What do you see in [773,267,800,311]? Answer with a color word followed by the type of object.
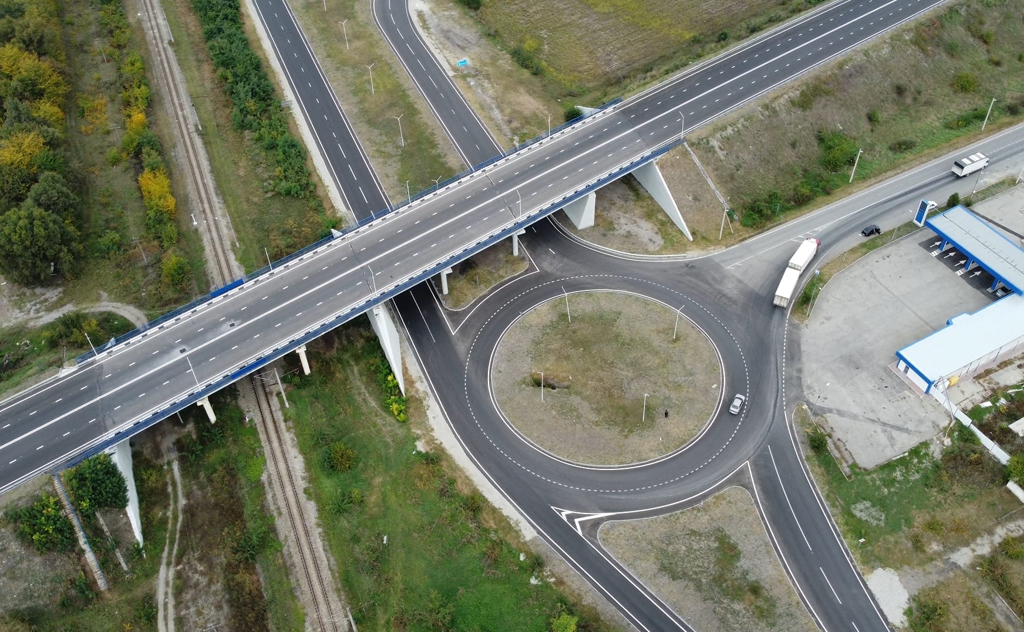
white trailer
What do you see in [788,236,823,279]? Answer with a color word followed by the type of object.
white truck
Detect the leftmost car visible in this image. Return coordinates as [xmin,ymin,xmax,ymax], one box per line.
[727,392,747,418]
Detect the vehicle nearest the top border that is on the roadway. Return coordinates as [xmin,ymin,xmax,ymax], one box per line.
[954,153,986,175]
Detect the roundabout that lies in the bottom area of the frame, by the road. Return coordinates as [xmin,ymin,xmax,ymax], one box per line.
[432,249,806,545]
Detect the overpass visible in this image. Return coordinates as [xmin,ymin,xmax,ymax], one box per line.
[75,94,696,567]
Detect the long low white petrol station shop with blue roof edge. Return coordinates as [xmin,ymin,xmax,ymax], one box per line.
[893,292,1024,394]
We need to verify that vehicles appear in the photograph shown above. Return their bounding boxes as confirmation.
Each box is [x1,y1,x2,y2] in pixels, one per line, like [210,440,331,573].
[788,236,823,279]
[727,392,747,418]
[996,282,1019,297]
[860,224,883,238]
[926,199,941,210]
[954,153,986,175]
